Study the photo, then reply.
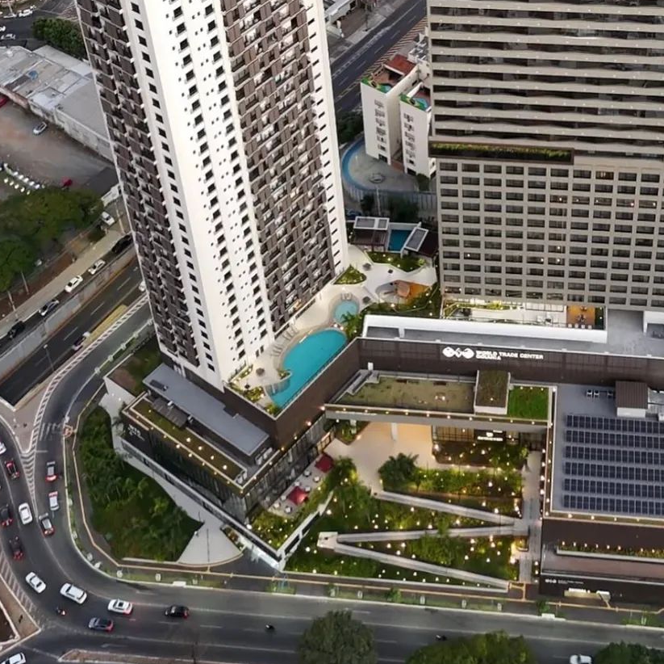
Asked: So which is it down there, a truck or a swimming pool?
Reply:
swimming pool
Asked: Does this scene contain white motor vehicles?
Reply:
Yes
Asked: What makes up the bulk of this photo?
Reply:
buildings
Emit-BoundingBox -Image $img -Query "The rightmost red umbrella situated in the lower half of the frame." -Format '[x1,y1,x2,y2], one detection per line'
[313,445,334,464]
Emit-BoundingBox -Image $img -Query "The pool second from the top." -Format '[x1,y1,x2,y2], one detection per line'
[332,299,360,324]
